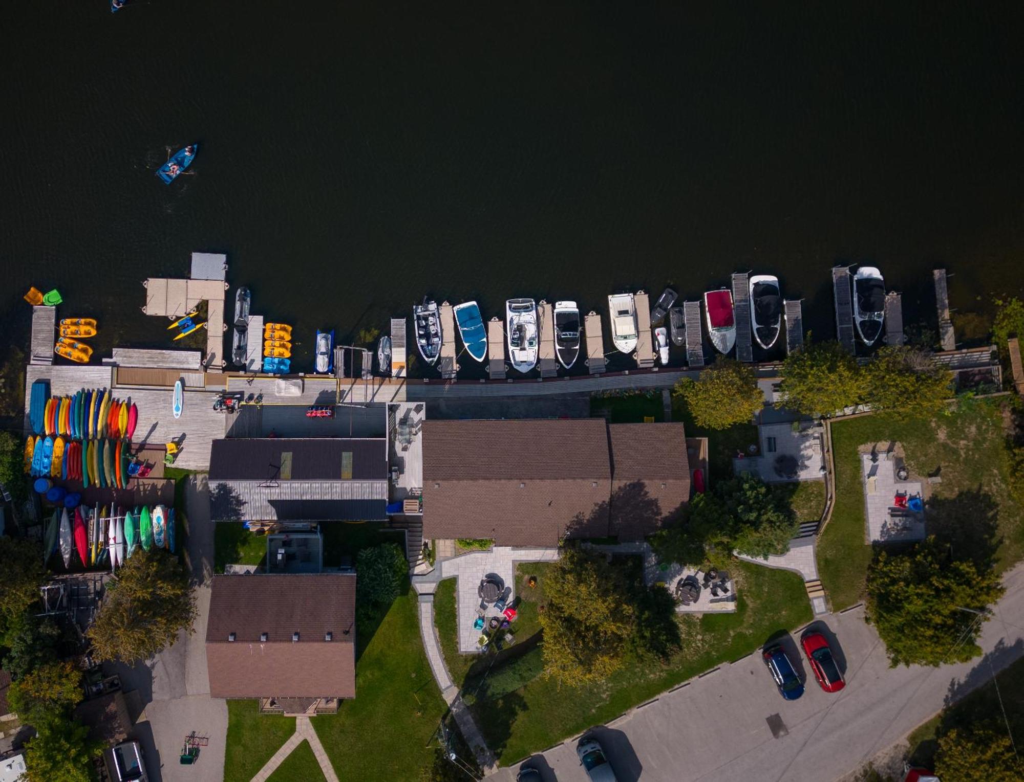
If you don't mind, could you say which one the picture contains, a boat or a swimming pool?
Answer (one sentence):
The one in the frame is a boat.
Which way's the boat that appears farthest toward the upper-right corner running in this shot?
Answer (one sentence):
What the image shows is the boat that appears farthest toward the upper-right corner lying from top to bottom.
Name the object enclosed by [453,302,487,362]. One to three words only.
boat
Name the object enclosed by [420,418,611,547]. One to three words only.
building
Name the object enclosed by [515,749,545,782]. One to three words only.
car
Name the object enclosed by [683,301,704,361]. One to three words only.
pier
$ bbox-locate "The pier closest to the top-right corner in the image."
[931,269,953,324]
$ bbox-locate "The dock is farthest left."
[28,307,58,359]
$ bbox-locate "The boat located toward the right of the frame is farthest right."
[853,267,884,347]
